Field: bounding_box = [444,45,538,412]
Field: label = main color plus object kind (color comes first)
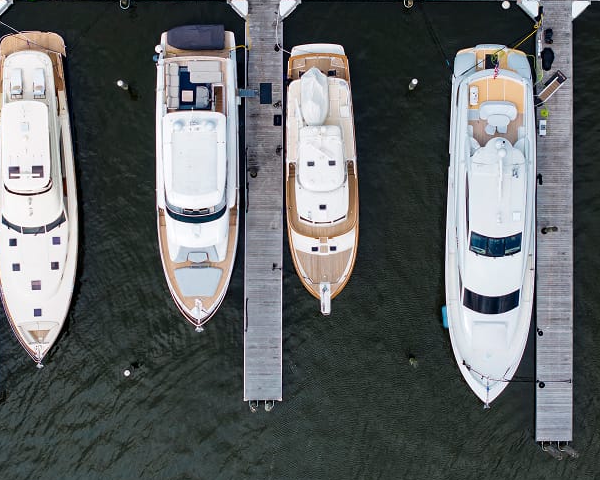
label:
white boat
